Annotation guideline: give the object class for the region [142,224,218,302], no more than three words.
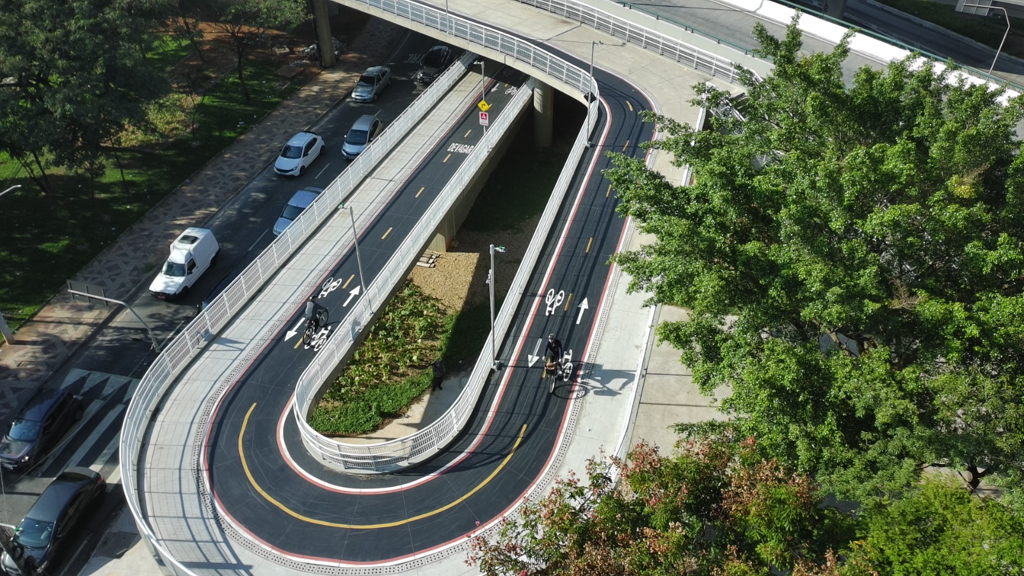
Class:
van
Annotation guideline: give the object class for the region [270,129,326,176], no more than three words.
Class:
car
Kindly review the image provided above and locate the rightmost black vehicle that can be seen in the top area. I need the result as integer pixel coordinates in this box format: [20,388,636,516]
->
[414,42,454,81]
